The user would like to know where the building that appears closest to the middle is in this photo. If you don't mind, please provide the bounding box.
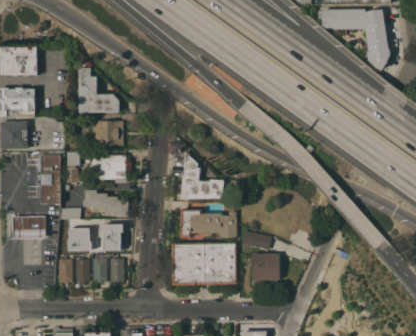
[182,152,224,200]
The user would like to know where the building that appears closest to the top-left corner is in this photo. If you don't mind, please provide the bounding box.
[0,47,38,76]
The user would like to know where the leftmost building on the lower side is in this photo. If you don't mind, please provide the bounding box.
[13,215,47,240]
